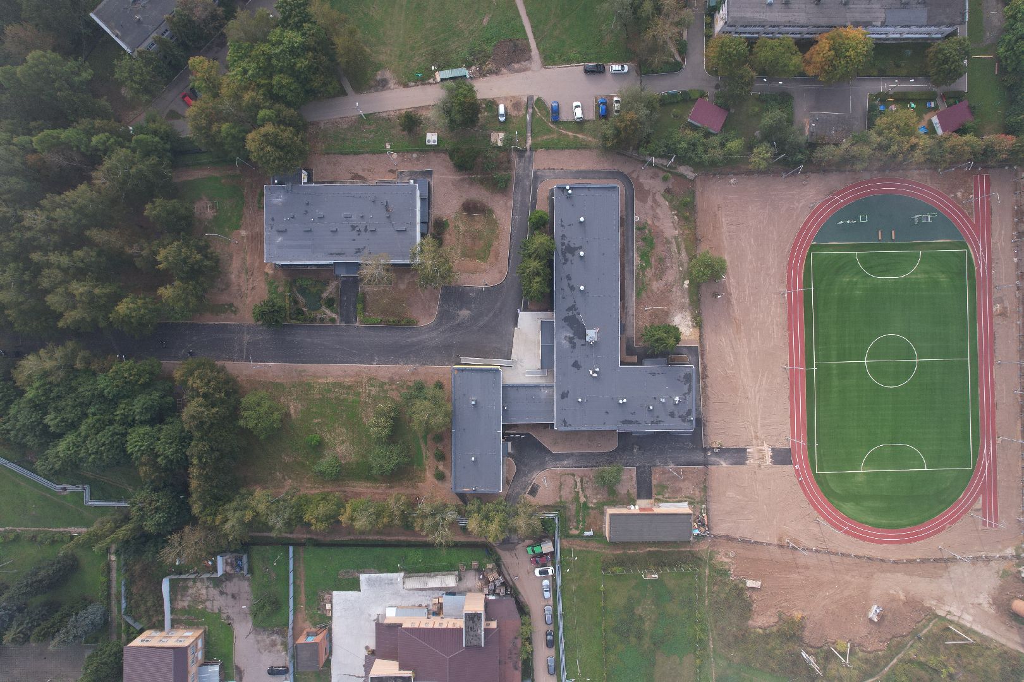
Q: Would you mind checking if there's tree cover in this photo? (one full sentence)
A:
Yes, there is tree cover in the image.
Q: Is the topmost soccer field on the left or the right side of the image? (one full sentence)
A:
The topmost soccer field sits on the right side.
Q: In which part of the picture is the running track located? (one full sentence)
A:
The running track appears toward the right of the photo.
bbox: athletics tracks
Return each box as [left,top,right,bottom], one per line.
[787,172,1000,545]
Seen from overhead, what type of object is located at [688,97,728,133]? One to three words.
building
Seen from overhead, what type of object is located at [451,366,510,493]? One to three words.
building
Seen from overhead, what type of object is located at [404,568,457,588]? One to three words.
shed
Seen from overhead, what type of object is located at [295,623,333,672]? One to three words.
house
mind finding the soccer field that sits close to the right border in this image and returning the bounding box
[805,242,979,527]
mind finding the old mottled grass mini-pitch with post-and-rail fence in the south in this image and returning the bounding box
[601,568,703,682]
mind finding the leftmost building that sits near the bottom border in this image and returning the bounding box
[124,631,223,682]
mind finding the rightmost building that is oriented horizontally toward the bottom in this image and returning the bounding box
[608,502,701,542]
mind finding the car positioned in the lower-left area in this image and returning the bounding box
[267,666,288,678]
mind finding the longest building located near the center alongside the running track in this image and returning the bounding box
[541,185,695,435]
